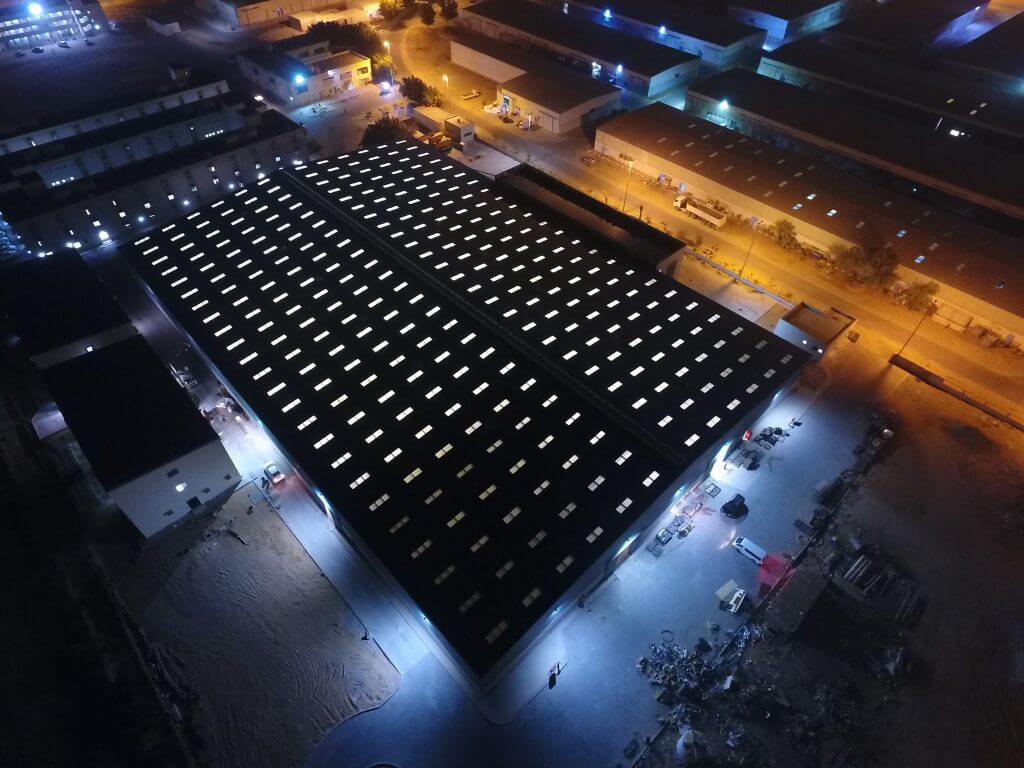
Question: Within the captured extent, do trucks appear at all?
Yes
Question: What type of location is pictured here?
industrial area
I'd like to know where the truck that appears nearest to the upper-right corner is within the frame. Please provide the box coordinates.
[671,193,730,228]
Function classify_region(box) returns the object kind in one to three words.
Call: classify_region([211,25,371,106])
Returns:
building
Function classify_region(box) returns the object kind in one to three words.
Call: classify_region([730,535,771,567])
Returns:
vehicle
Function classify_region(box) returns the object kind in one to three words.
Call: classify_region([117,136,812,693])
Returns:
warehouse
